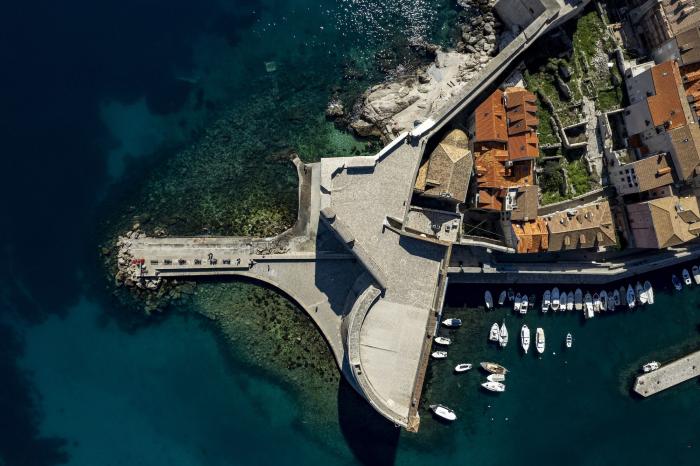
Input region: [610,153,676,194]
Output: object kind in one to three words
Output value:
house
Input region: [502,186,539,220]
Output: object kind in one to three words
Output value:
house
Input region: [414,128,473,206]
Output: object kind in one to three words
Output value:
building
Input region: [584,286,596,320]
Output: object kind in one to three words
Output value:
boat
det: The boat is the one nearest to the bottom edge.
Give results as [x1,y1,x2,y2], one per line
[430,405,456,420]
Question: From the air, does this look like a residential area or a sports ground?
residential area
